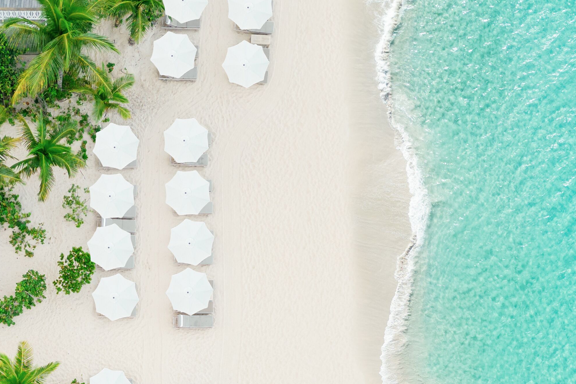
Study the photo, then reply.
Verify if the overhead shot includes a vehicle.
No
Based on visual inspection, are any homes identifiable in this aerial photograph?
No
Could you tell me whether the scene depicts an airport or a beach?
beach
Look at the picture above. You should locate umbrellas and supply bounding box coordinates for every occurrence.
[163,221,212,270]
[147,36,195,84]
[89,277,135,324]
[91,125,138,173]
[217,44,266,93]
[162,0,206,32]
[162,270,209,318]
[88,368,126,384]
[88,177,132,222]
[83,226,131,272]
[162,174,206,219]
[161,121,206,165]
[224,0,269,39]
